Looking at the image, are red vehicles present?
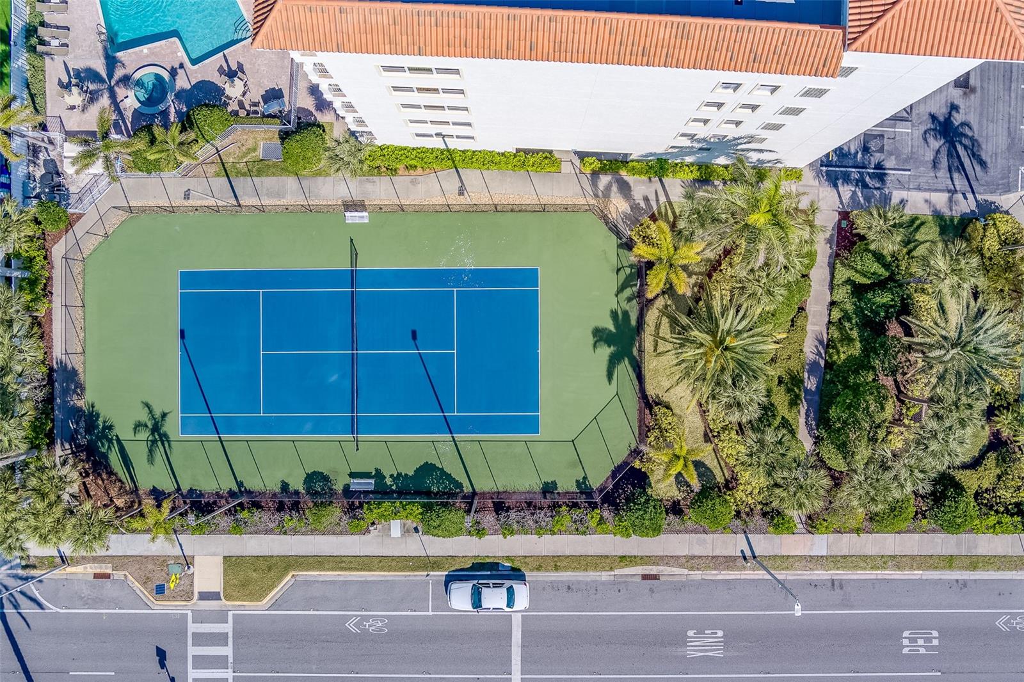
No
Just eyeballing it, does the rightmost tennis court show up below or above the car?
above it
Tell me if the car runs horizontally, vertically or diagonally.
horizontally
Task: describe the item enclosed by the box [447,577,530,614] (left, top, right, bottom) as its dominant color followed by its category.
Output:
white car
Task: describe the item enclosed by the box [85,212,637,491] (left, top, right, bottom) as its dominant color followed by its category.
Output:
green tennis court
